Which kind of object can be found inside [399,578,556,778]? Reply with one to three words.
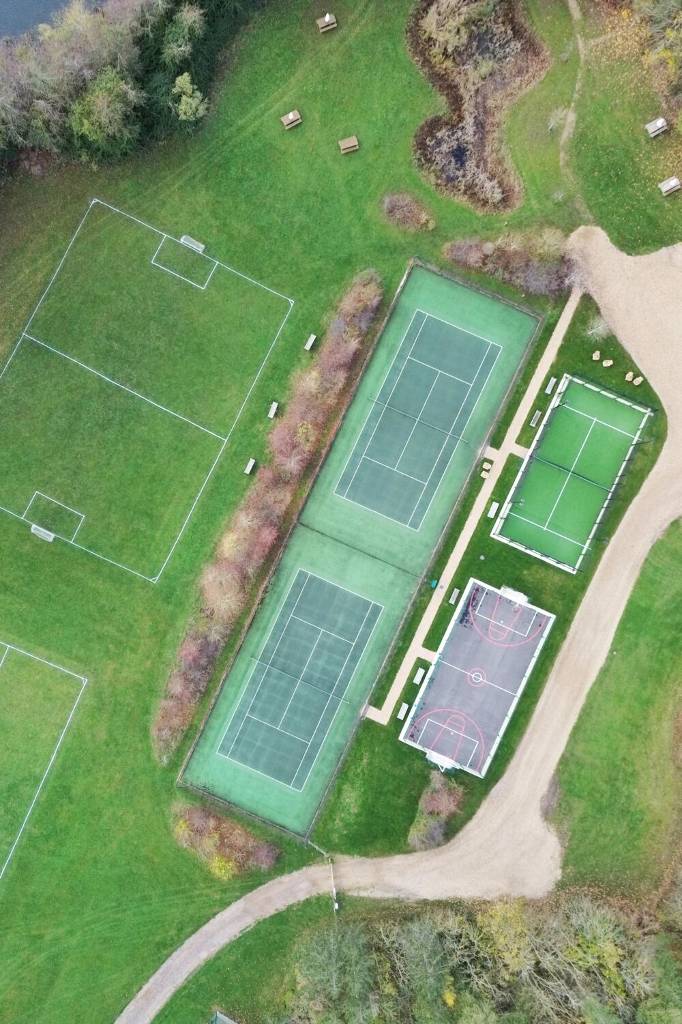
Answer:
basketball court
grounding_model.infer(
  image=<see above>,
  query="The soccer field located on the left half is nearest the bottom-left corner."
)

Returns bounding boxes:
[0,641,86,871]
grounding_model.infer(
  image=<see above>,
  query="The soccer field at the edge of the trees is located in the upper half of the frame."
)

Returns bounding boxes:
[0,200,293,582]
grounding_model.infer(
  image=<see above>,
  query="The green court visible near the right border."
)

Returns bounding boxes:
[493,371,660,573]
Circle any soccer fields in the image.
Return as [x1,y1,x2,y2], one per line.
[0,200,293,582]
[0,641,86,871]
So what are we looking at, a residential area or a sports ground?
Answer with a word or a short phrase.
sports ground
